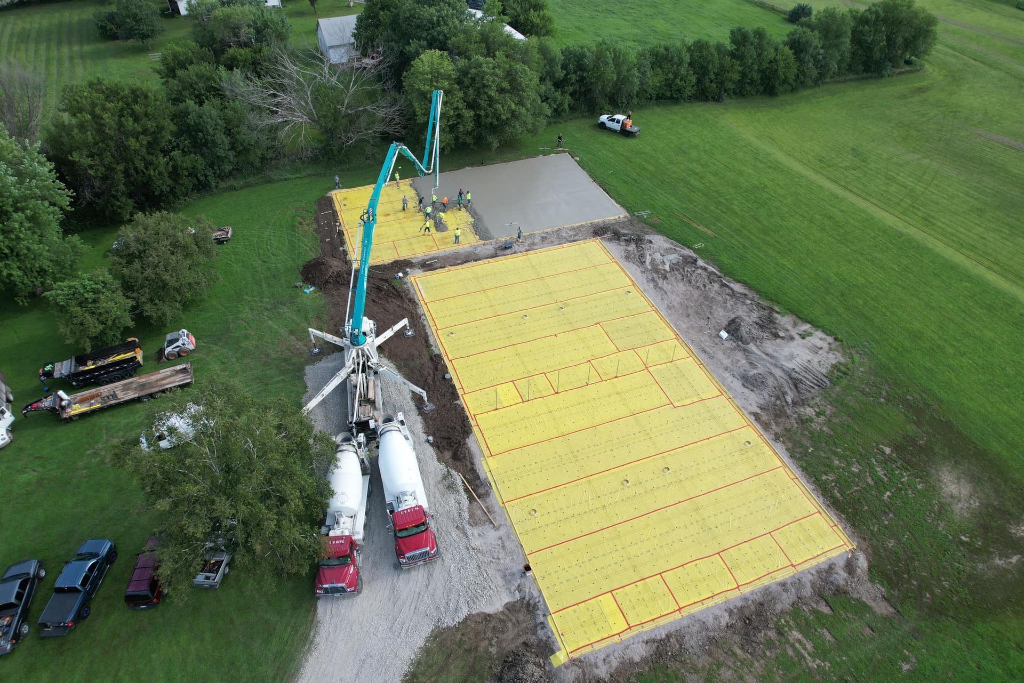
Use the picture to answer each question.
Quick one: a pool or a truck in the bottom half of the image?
truck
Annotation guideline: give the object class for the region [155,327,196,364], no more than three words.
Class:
work vehicle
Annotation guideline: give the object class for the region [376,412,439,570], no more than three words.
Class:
truck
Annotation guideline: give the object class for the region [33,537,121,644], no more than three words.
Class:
truck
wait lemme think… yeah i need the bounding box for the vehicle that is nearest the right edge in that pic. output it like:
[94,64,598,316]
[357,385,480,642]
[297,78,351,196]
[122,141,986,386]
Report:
[597,114,645,138]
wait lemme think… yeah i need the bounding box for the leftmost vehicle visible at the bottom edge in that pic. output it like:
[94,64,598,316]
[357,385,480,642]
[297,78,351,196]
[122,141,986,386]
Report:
[0,553,48,664]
